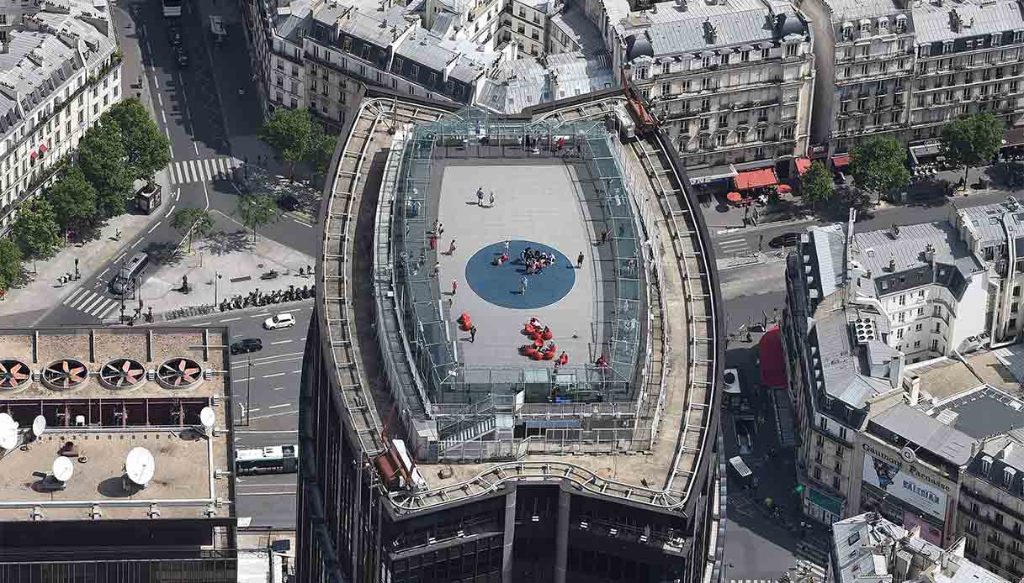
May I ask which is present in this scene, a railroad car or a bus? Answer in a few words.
bus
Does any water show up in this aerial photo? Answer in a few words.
No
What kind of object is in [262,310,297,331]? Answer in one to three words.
car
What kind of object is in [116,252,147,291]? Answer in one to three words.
van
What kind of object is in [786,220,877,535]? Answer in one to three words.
building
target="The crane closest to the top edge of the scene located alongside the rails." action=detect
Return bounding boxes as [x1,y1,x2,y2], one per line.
[617,67,661,150]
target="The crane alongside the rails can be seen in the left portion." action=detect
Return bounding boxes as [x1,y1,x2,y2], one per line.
[373,407,427,502]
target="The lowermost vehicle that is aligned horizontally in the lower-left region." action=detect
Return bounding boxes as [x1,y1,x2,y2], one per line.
[234,448,297,481]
